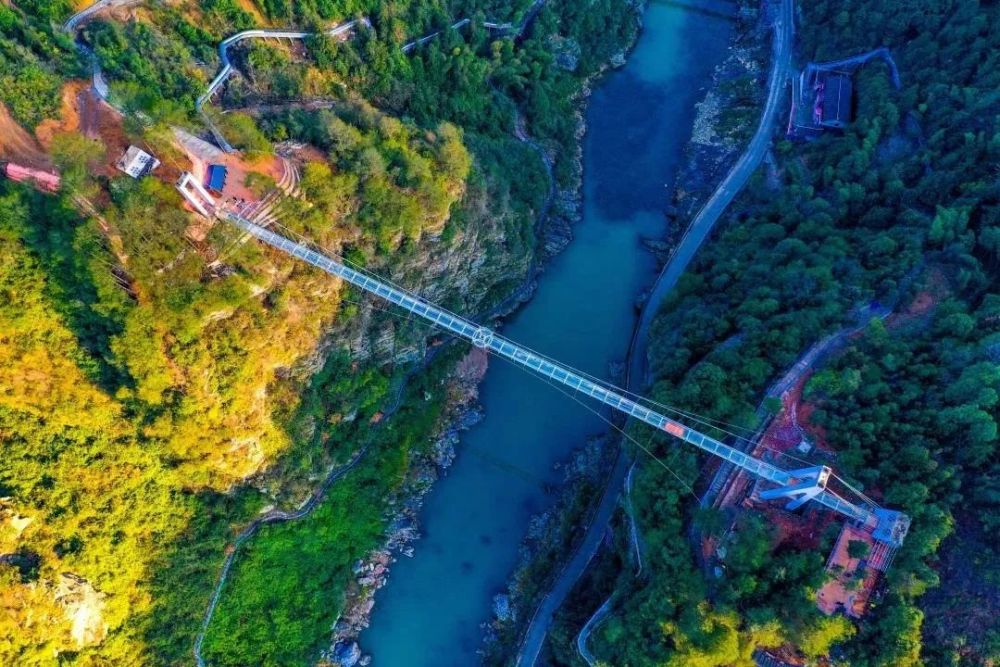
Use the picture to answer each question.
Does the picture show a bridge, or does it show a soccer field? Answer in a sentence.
It is a bridge that can be seen here.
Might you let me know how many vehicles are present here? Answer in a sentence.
I count no vehicles.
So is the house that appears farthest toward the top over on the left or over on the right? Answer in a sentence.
The house that appears farthest toward the top is on the right side of the image.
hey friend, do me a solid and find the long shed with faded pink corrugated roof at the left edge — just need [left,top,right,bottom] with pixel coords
[6,163,68,198]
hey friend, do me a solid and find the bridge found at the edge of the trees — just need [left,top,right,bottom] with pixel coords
[147,169,872,529]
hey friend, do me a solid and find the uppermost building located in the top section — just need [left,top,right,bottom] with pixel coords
[811,73,851,126]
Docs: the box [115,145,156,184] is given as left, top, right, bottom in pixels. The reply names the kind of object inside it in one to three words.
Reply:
building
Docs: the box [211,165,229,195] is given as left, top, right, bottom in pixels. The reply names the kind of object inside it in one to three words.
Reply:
shed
